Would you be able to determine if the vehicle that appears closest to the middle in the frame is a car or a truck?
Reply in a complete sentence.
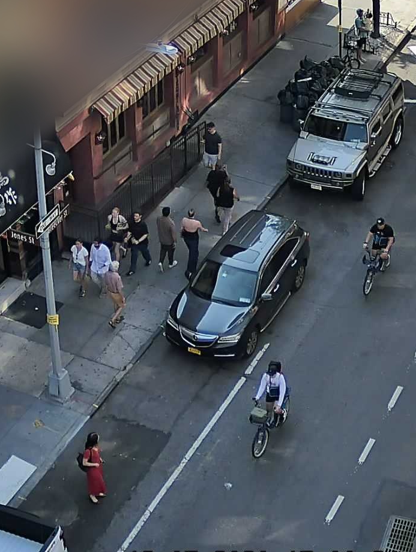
It looks like the vehicle that appears closest to the middle is a car.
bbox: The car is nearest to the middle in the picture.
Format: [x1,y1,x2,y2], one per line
[160,199,315,362]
